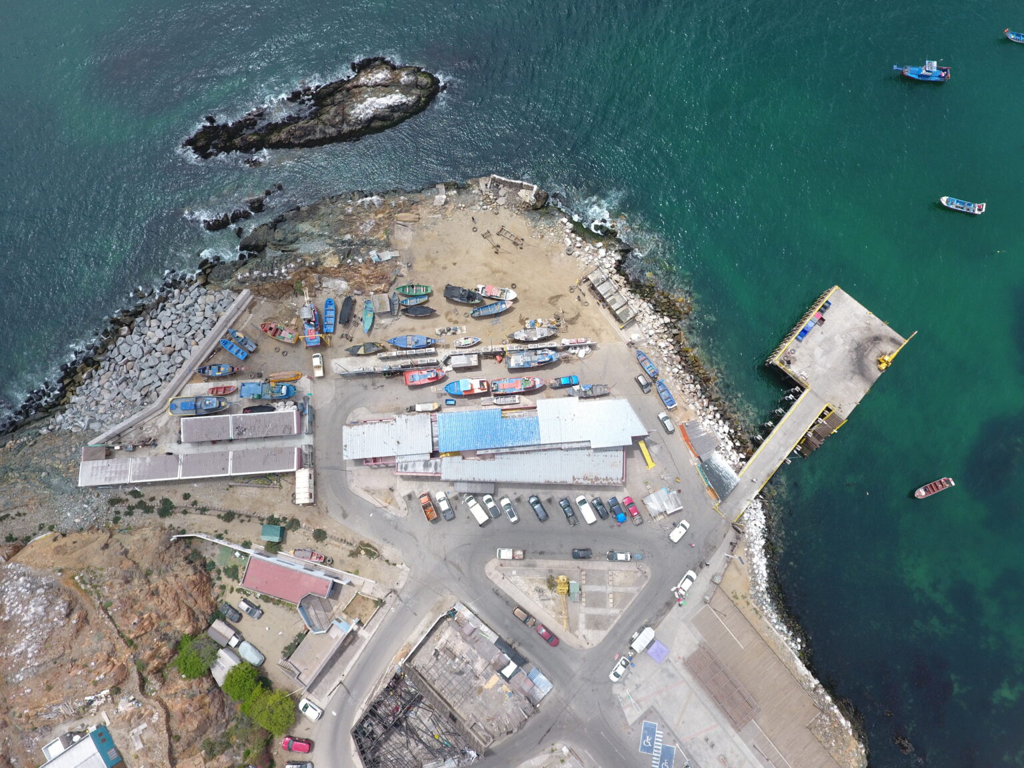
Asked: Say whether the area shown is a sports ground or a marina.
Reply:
marina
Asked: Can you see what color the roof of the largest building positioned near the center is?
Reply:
white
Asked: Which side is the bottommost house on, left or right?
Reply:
left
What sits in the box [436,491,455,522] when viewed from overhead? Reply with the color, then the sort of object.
white vehicle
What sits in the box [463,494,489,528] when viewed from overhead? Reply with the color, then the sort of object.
white truck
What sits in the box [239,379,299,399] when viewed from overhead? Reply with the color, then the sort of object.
blue boat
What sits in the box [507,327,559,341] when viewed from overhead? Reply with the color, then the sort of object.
white boat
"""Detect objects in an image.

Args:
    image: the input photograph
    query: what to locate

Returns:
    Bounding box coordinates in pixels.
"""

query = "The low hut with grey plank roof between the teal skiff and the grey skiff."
[371,293,391,315]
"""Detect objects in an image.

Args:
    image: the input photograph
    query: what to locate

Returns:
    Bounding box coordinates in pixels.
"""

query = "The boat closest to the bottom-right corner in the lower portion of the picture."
[914,476,957,498]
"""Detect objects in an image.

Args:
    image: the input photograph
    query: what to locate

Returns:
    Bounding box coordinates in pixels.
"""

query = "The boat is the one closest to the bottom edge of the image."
[288,550,327,563]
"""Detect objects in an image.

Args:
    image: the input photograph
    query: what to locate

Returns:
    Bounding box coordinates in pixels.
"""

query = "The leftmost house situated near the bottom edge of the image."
[42,716,138,768]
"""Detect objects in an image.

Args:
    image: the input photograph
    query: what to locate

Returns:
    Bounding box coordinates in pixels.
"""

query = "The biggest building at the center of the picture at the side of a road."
[343,397,648,493]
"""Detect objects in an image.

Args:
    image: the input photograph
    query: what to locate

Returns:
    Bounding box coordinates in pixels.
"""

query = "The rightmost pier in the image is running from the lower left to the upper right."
[713,285,905,522]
